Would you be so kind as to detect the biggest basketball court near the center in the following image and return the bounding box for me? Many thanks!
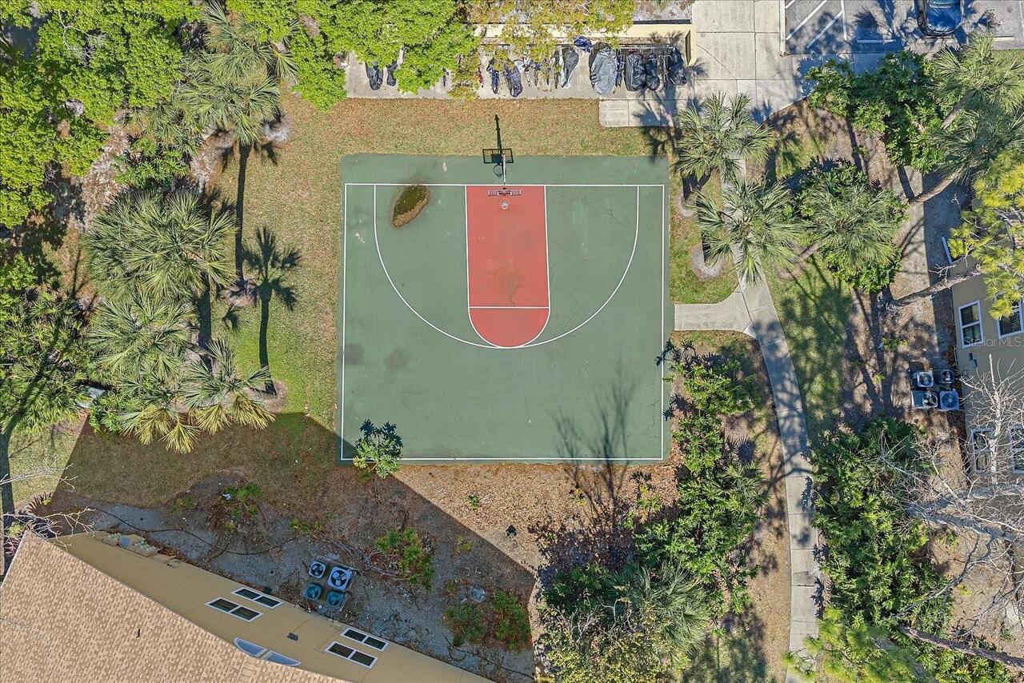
[336,154,671,466]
